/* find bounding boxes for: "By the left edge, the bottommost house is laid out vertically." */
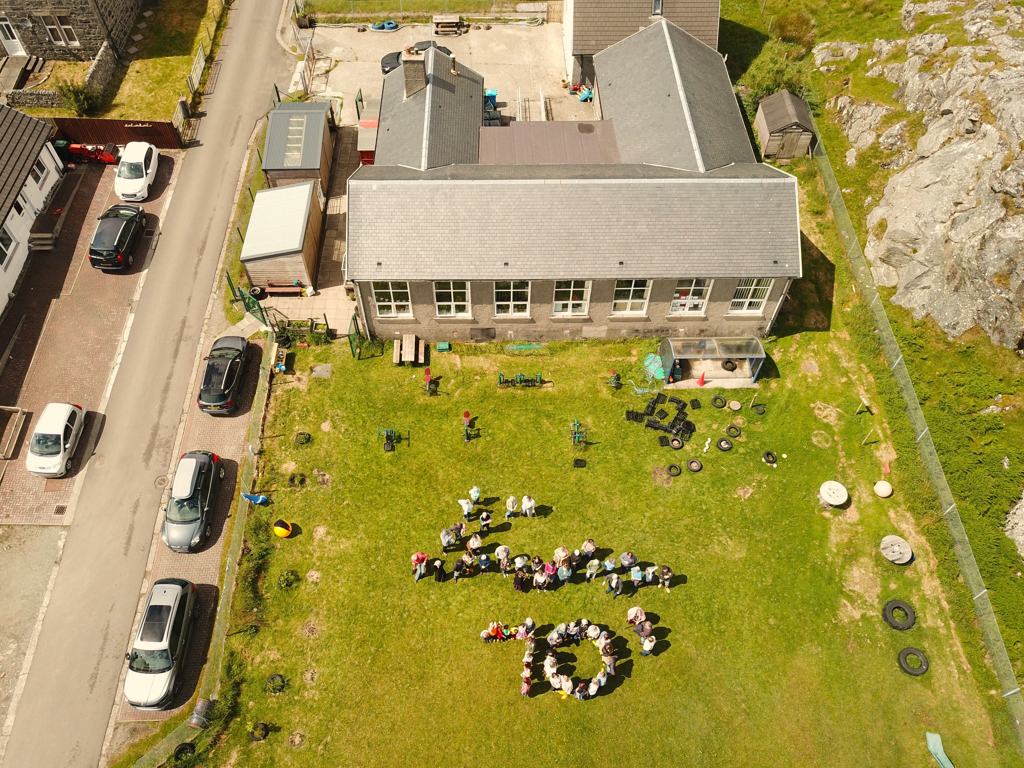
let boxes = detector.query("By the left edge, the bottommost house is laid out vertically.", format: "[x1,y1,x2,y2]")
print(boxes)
[0,101,81,302]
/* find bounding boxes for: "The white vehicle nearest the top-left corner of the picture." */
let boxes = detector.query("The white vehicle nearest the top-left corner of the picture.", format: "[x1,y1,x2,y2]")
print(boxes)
[112,143,163,199]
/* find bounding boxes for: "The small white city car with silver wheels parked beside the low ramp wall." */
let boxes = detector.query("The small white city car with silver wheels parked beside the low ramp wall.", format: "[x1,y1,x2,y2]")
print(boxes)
[24,401,93,478]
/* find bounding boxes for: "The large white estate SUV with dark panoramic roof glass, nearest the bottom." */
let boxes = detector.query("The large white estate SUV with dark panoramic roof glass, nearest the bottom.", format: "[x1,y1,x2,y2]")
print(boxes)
[119,579,204,714]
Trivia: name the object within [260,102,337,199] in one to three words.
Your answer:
shed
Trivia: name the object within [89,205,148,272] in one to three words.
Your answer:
car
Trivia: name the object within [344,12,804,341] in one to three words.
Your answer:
building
